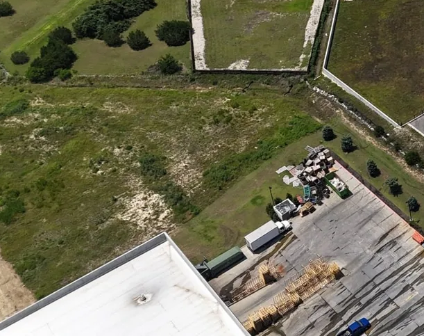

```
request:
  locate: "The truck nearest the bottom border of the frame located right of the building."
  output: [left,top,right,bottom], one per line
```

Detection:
[339,314,373,336]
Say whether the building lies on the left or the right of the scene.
left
